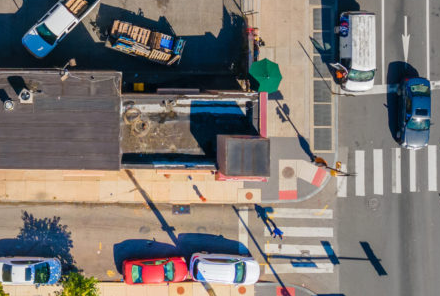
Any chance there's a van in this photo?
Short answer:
Yes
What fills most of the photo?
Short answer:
paved ground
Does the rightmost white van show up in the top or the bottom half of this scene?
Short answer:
top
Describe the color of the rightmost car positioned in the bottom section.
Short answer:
white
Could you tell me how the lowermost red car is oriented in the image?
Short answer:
horizontally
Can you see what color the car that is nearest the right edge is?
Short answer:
blue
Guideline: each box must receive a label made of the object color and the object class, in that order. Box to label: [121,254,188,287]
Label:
red car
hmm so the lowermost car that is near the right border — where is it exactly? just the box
[395,77,434,148]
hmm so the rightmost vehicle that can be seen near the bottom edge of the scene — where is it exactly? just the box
[188,251,259,287]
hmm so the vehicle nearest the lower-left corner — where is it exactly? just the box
[0,255,62,288]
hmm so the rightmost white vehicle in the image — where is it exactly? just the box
[327,10,378,92]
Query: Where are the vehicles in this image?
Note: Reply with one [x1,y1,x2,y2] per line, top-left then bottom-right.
[327,10,378,92]
[395,77,434,148]
[188,251,259,287]
[0,255,62,288]
[22,0,99,58]
[121,254,188,287]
